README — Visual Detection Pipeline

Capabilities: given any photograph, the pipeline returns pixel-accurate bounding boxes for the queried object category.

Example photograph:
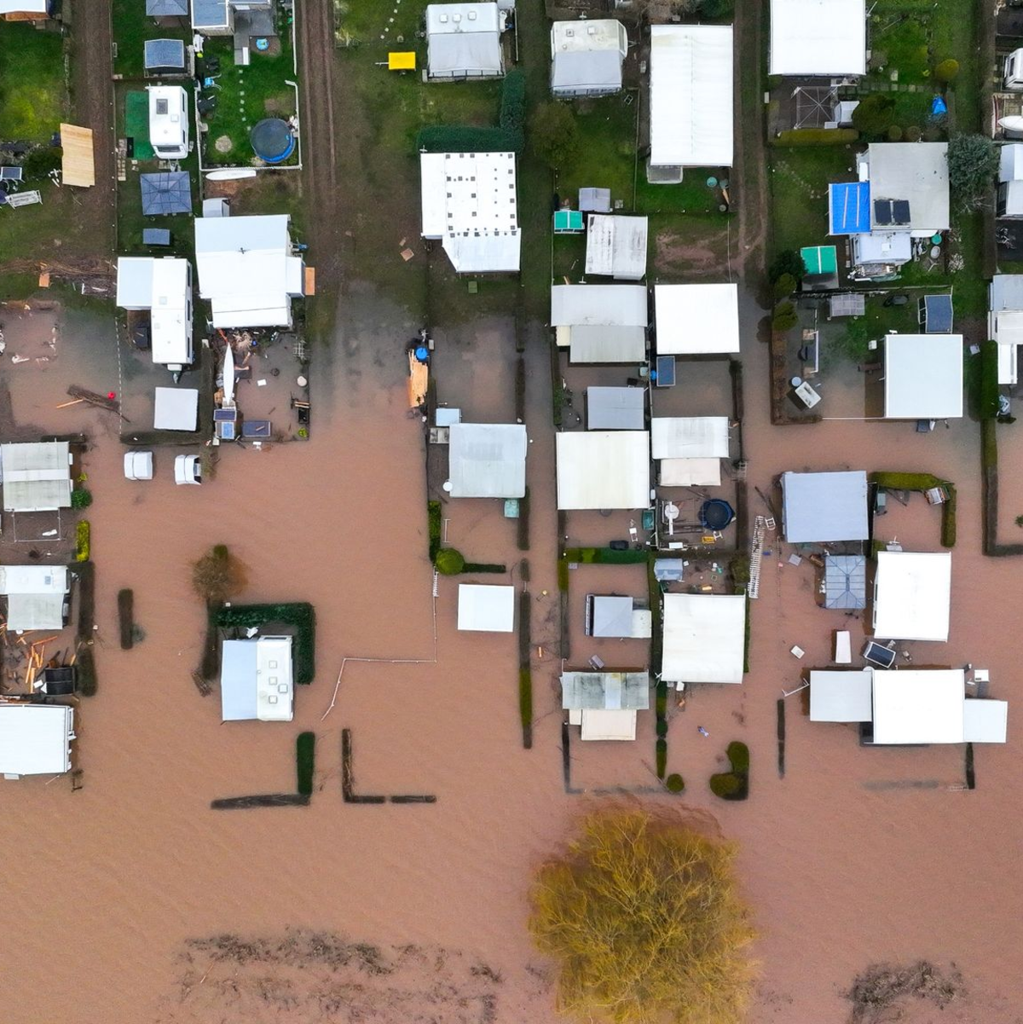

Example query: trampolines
[699,496,737,532]
[250,118,296,163]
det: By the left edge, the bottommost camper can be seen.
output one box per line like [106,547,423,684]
[0,564,80,595]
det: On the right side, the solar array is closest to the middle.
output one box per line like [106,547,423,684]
[657,356,675,386]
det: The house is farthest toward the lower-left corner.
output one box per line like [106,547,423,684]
[0,704,76,774]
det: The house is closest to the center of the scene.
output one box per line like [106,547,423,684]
[448,424,526,497]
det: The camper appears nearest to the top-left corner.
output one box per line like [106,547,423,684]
[150,87,191,171]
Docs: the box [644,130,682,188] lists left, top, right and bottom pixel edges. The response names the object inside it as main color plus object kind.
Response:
gray camper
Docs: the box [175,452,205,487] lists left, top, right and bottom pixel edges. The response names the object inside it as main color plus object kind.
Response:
white van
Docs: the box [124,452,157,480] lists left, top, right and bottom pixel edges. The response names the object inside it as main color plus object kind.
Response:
white van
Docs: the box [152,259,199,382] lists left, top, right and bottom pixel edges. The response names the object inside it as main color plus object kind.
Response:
white camper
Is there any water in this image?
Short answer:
Yes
